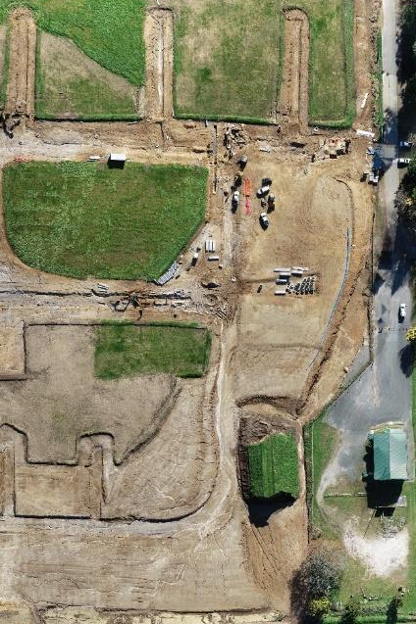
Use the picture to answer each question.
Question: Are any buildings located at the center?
No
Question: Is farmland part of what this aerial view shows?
Yes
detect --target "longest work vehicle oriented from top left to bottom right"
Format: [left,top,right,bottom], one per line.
[127,289,144,309]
